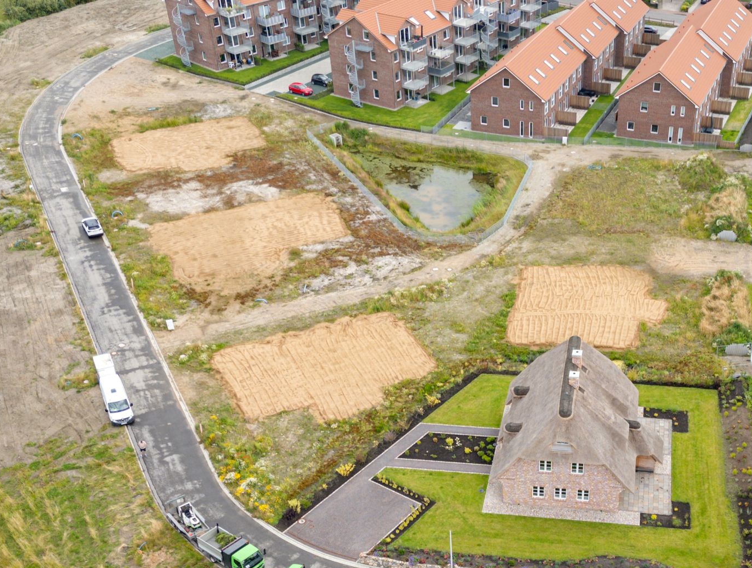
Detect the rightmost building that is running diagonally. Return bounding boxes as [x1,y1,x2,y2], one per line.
[615,0,752,146]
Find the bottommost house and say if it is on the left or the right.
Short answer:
right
